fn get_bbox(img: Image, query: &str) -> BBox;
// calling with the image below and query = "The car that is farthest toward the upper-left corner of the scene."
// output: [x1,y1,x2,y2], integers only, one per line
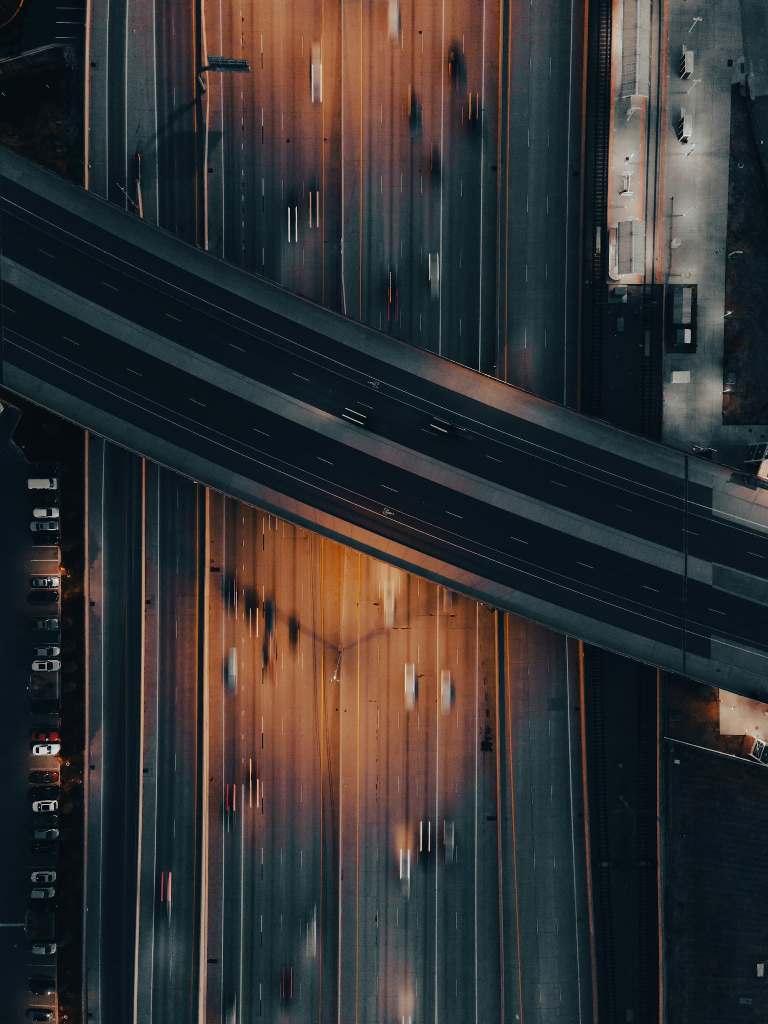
[310,72,323,100]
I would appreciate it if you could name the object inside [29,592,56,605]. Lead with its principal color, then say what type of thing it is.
black vehicle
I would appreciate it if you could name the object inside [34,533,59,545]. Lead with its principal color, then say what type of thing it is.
black vehicle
